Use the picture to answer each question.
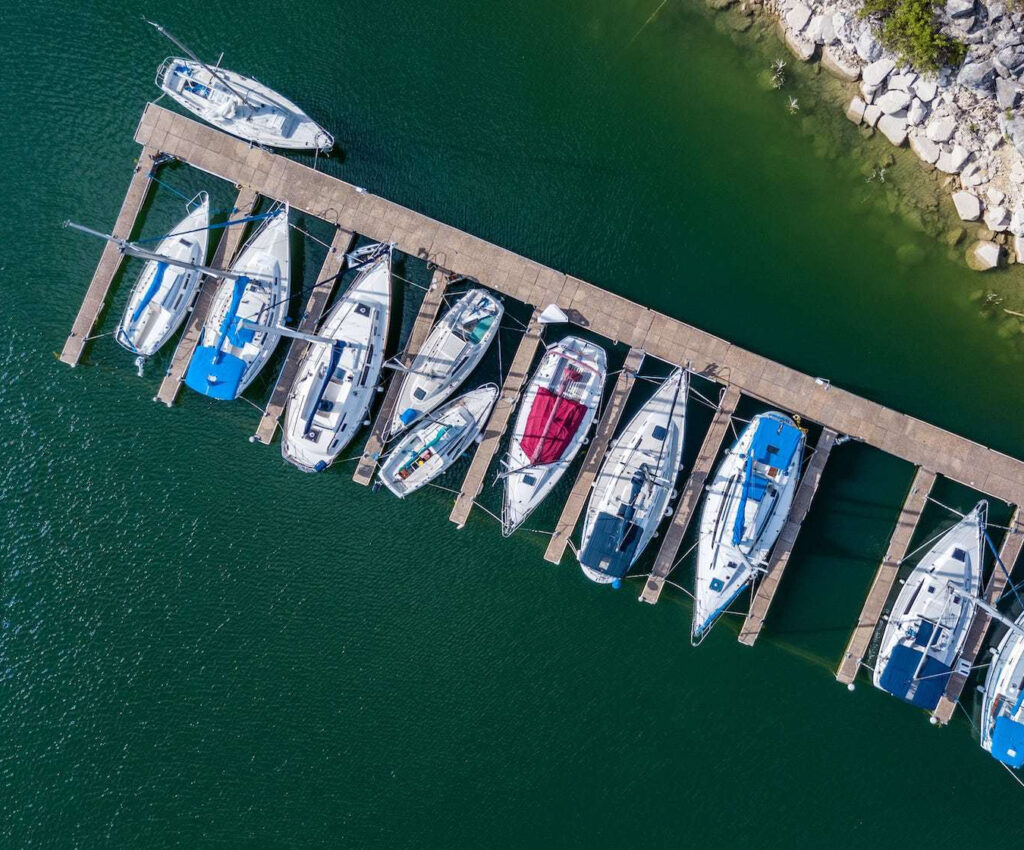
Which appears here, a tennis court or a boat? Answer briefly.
boat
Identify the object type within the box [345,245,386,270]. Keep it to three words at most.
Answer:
boat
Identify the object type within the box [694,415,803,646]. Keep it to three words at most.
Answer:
boat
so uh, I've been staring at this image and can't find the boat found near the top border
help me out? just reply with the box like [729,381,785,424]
[131,8,330,149]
